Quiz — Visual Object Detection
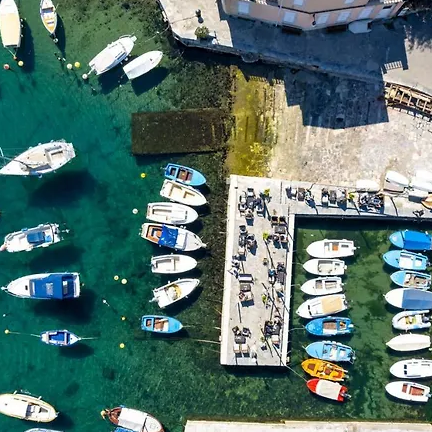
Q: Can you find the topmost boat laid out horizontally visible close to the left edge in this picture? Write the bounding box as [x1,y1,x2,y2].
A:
[0,141,80,176]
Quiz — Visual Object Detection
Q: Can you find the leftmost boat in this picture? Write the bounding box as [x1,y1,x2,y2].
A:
[0,0,23,51]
